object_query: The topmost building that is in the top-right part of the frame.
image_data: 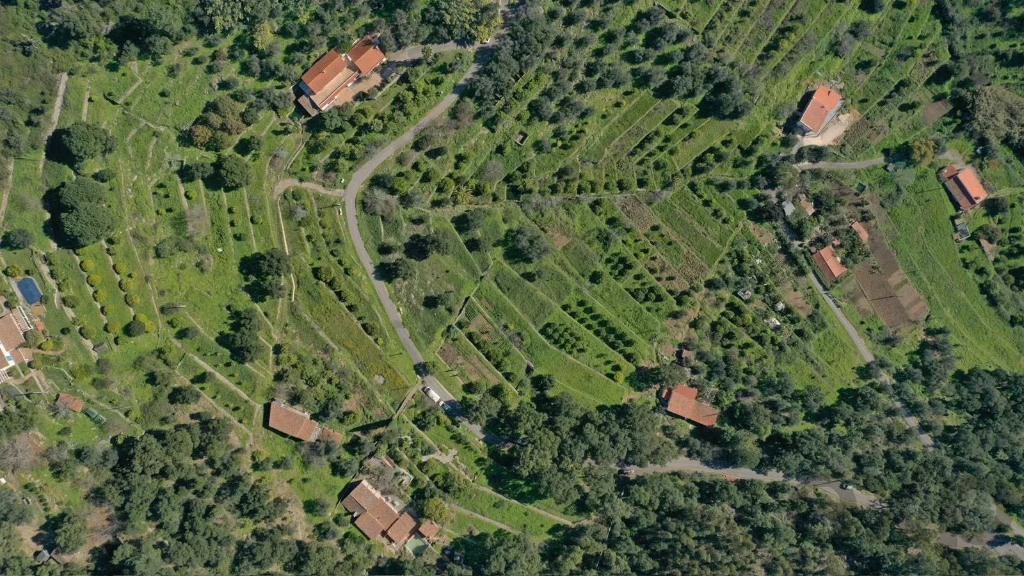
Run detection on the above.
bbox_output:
[796,85,846,137]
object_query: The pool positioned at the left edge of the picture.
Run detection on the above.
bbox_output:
[13,274,44,308]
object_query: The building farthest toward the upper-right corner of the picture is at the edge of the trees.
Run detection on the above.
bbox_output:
[940,165,988,214]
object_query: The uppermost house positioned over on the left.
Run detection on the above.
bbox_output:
[298,34,387,117]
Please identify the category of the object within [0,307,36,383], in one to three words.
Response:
house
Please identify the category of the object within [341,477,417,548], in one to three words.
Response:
house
